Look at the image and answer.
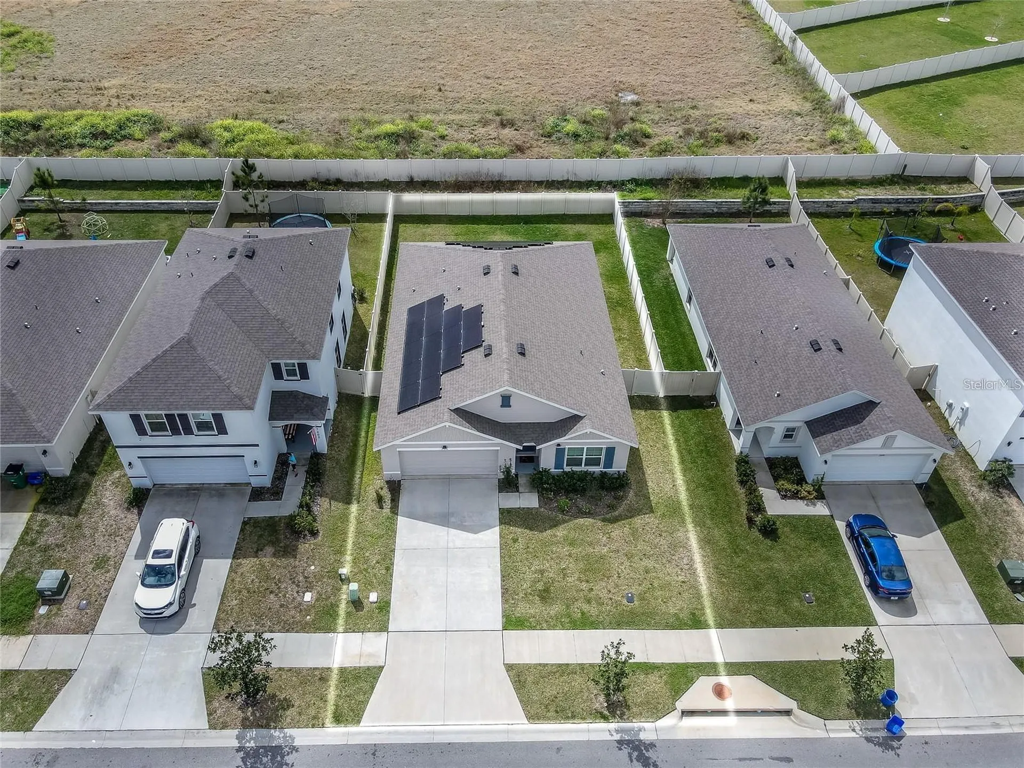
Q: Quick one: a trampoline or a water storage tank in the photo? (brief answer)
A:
trampoline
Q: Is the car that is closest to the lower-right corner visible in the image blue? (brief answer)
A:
Yes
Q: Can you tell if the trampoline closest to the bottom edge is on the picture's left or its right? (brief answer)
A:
right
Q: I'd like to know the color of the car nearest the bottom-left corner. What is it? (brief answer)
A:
white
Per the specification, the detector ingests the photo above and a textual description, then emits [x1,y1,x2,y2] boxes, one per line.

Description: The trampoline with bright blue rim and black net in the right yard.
[872,214,949,277]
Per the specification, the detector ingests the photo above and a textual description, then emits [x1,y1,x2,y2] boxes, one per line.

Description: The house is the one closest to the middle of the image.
[374,243,638,477]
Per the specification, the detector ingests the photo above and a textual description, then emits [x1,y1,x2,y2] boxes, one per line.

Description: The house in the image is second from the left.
[89,229,354,487]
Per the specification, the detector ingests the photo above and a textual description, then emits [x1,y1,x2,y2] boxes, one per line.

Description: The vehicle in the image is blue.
[846,509,921,597]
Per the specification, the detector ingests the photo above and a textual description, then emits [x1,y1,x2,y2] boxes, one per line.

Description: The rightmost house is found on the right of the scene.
[884,244,1024,469]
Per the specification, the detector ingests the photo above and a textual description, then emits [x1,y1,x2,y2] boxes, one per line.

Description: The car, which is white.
[129,521,199,619]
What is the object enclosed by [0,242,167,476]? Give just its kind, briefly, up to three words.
house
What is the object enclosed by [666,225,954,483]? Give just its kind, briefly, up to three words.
house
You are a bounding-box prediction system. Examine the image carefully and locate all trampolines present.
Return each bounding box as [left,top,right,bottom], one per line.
[265,194,331,230]
[872,214,949,277]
